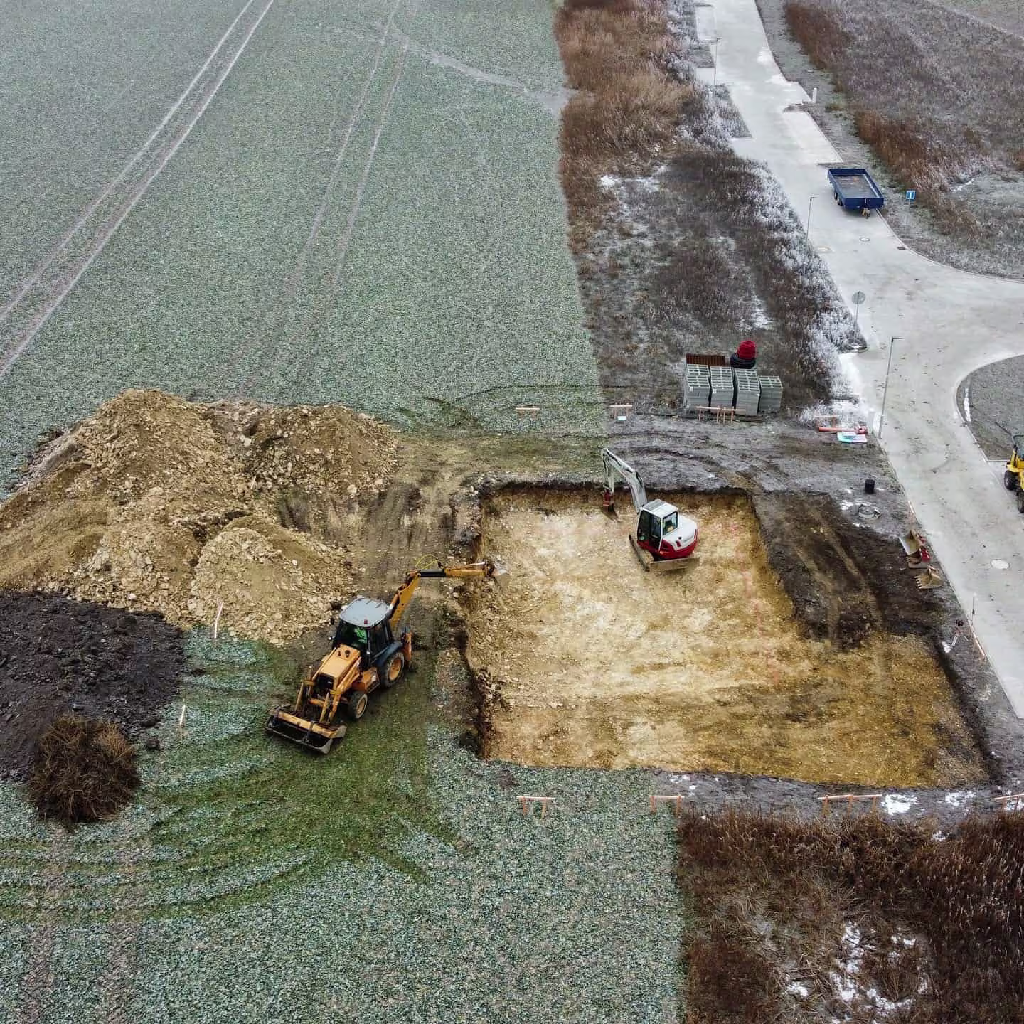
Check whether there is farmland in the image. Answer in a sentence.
Yes, there's farmland in this view.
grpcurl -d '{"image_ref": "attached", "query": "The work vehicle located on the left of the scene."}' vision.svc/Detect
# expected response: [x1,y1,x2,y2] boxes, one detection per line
[274,555,510,750]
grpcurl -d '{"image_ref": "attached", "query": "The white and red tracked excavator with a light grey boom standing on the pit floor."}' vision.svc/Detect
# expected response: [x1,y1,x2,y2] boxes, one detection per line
[602,445,699,575]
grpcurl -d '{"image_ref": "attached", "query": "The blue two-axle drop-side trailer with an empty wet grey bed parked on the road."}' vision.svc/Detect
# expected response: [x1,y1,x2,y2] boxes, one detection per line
[828,170,884,221]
